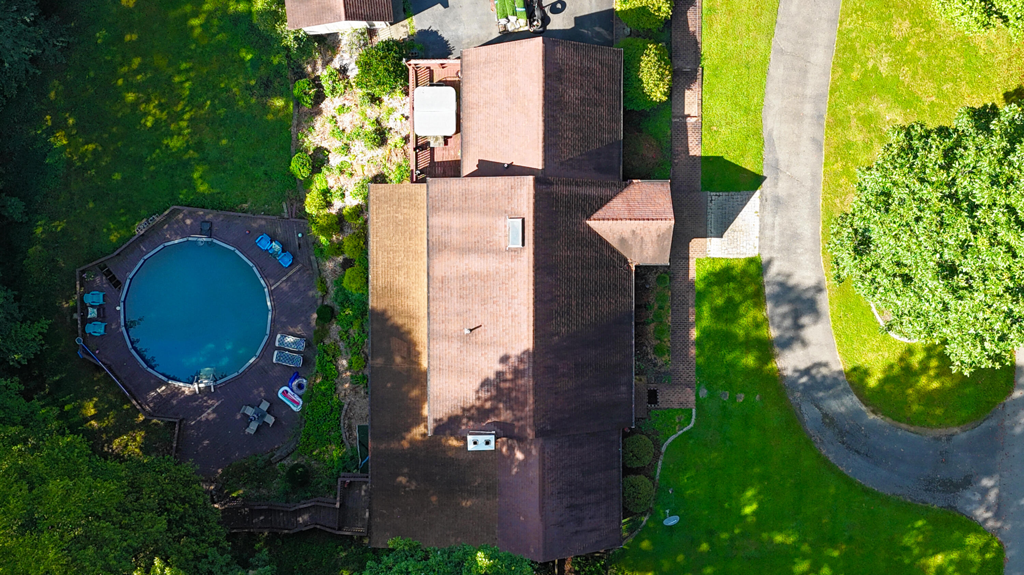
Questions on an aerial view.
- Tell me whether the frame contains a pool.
Yes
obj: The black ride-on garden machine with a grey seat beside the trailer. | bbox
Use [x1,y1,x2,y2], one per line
[528,0,548,31]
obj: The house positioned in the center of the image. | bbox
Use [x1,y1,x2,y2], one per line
[367,36,674,563]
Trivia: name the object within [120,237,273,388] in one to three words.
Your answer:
swimming pool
